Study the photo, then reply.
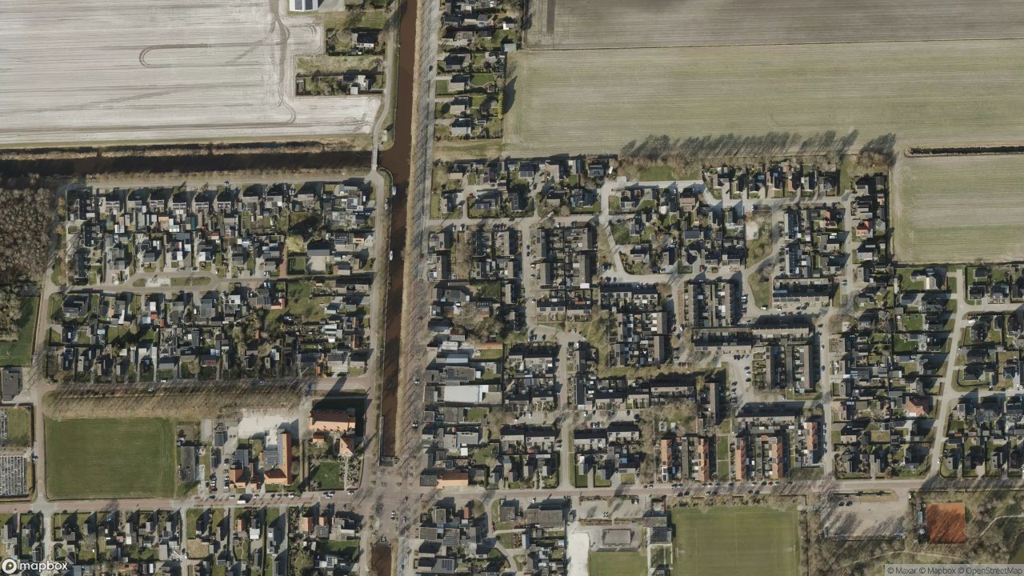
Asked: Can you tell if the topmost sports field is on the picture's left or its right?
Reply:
left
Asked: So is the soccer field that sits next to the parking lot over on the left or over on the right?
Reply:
right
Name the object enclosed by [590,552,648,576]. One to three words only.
sports field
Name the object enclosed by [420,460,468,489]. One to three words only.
building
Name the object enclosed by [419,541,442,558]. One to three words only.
house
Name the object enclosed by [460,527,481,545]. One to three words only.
house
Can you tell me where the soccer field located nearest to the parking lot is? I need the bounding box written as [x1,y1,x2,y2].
[665,506,801,576]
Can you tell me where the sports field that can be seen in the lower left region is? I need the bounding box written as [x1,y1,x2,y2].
[46,418,175,500]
